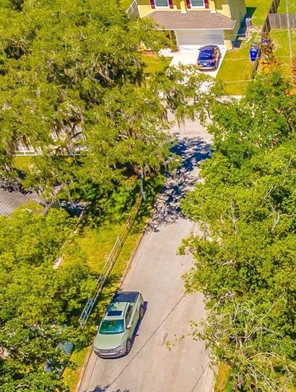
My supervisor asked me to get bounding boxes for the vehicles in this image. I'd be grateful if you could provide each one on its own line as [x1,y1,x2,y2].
[94,285,144,351]
[196,45,220,66]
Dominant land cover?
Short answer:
trees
